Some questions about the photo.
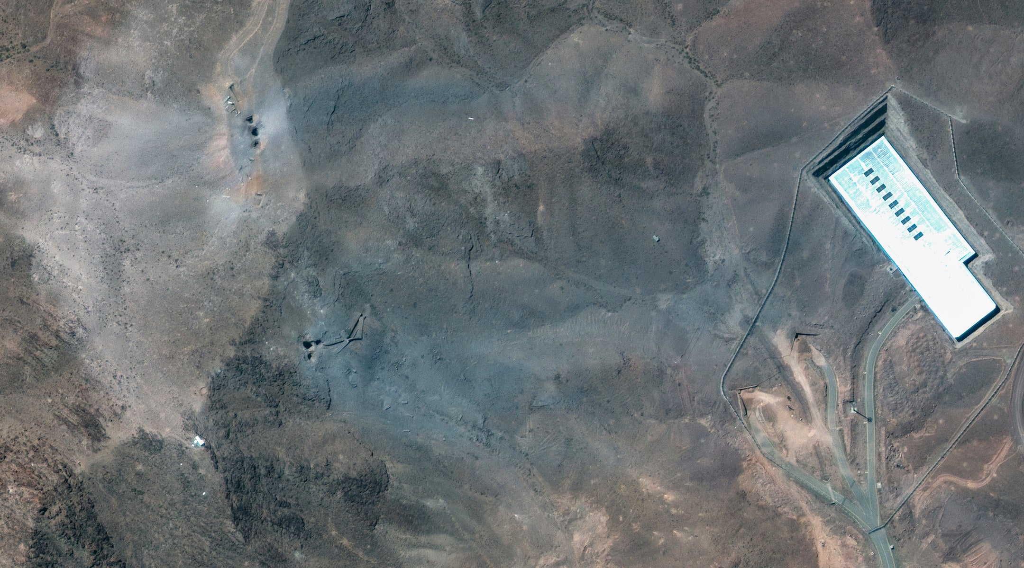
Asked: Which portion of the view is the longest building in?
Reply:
right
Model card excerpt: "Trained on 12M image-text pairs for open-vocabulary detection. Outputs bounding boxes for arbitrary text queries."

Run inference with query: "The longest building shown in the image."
[828,135,996,340]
